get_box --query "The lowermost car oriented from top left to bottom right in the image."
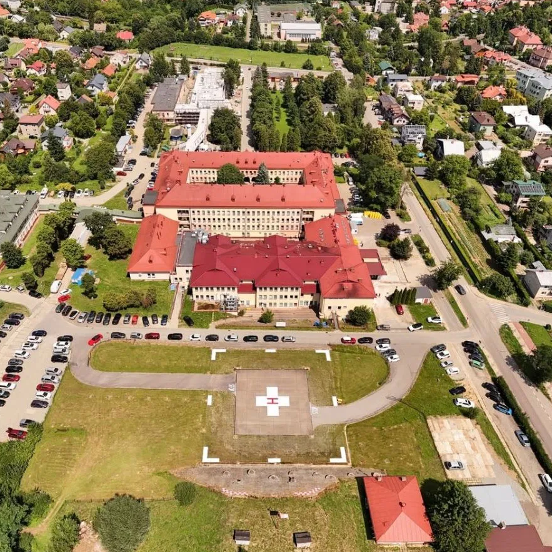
[538,472,552,492]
